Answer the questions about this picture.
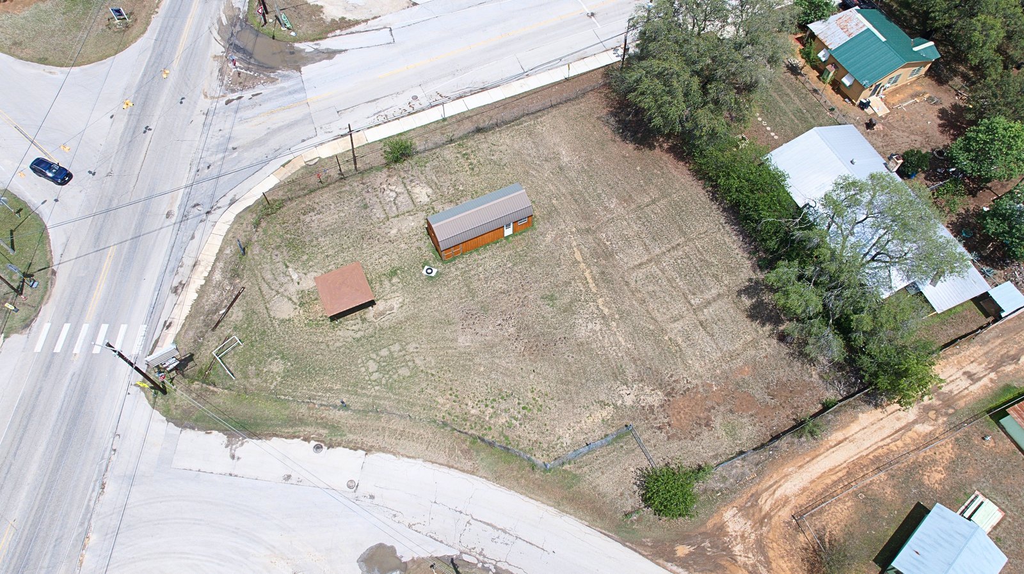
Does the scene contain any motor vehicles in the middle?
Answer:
No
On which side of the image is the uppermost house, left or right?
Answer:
right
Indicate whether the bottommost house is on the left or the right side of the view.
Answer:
right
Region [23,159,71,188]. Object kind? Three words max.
car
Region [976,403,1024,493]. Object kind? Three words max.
shed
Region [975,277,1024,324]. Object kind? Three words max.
shed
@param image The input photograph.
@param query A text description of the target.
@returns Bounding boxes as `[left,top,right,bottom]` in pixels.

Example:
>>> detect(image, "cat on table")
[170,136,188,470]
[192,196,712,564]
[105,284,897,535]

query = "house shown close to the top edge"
[804,3,938,101]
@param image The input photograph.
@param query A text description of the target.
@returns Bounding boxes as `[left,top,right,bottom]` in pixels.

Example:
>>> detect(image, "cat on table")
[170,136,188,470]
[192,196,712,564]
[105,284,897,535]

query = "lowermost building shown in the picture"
[876,503,1008,574]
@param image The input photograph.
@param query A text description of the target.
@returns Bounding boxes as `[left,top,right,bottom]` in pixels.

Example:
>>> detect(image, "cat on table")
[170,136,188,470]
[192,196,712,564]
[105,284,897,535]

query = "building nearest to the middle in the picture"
[425,182,535,260]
